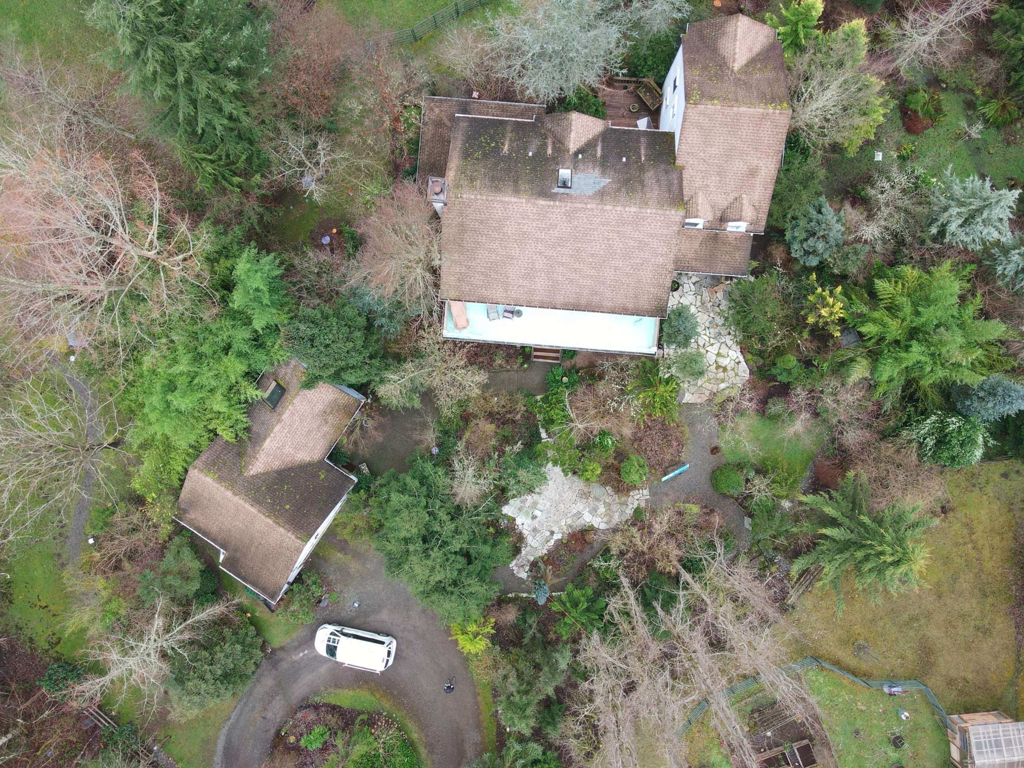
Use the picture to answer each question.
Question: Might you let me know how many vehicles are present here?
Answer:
1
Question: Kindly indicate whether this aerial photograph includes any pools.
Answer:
No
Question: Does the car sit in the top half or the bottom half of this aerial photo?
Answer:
bottom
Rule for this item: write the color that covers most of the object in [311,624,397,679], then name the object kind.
white car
